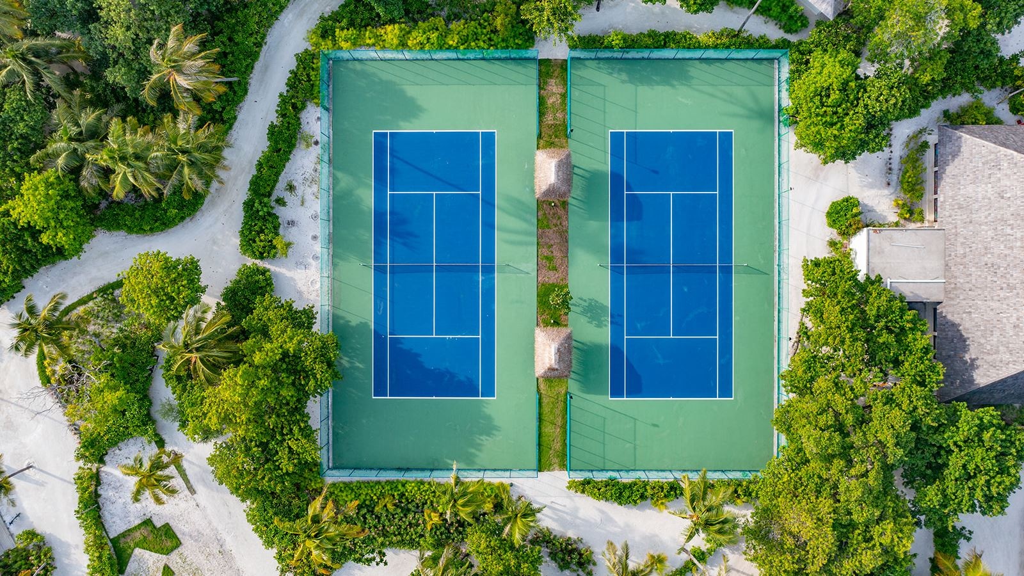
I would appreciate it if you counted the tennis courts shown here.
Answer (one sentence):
There are 2 tennis courts in the image.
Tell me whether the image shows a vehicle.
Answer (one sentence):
No, no vehicle can be seen from above.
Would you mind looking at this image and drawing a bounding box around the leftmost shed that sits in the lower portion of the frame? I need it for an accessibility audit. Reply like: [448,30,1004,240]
[534,326,573,379]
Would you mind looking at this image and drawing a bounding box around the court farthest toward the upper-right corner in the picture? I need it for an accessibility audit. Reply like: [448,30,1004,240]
[568,58,778,471]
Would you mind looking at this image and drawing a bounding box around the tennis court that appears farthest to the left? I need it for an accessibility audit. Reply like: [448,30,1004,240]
[328,60,538,471]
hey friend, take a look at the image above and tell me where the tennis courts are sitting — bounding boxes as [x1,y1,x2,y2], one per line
[328,60,538,471]
[568,58,778,471]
